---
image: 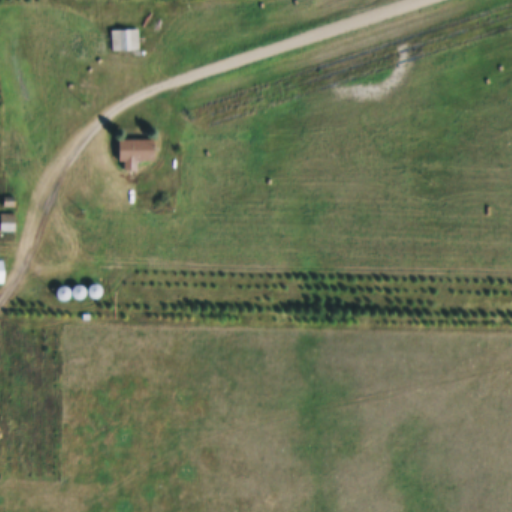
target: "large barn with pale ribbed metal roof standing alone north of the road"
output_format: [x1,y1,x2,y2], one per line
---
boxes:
[112,28,140,51]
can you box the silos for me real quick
[56,286,72,302]
[72,285,88,301]
[88,284,104,300]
